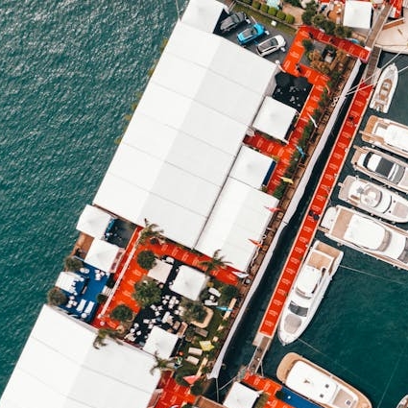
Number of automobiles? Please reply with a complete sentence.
My tally gives 3 automobiles in this view.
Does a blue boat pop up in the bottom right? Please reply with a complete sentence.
No, I can find no blue boat in the bottom right.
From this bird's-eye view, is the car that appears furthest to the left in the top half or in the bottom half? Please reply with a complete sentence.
The top half of the photo is where the car that appears furthest to the left is.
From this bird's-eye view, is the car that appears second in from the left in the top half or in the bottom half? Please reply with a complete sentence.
Seen from above, the car that appears second in from the left lies in the top half of the view.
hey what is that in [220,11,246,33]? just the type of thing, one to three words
car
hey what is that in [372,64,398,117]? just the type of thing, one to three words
boat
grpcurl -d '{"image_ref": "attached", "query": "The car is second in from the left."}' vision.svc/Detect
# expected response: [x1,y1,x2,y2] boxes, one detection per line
[235,21,265,45]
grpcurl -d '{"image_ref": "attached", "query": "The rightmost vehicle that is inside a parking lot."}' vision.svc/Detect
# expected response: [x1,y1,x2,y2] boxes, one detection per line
[255,34,288,57]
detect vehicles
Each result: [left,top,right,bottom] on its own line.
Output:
[235,21,265,45]
[255,34,288,57]
[220,11,246,33]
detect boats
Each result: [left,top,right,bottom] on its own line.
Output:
[355,119,408,157]
[321,212,408,269]
[338,180,408,223]
[353,146,408,192]
[372,64,398,117]
[264,356,391,408]
[280,241,392,344]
